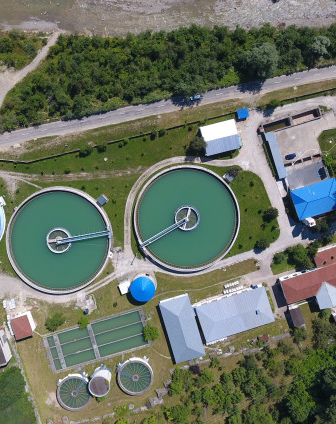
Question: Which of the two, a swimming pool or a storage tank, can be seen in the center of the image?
storage tank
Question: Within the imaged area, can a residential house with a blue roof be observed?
Yes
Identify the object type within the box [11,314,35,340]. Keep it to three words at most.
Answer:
house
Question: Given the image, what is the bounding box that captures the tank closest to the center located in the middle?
[134,165,241,272]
